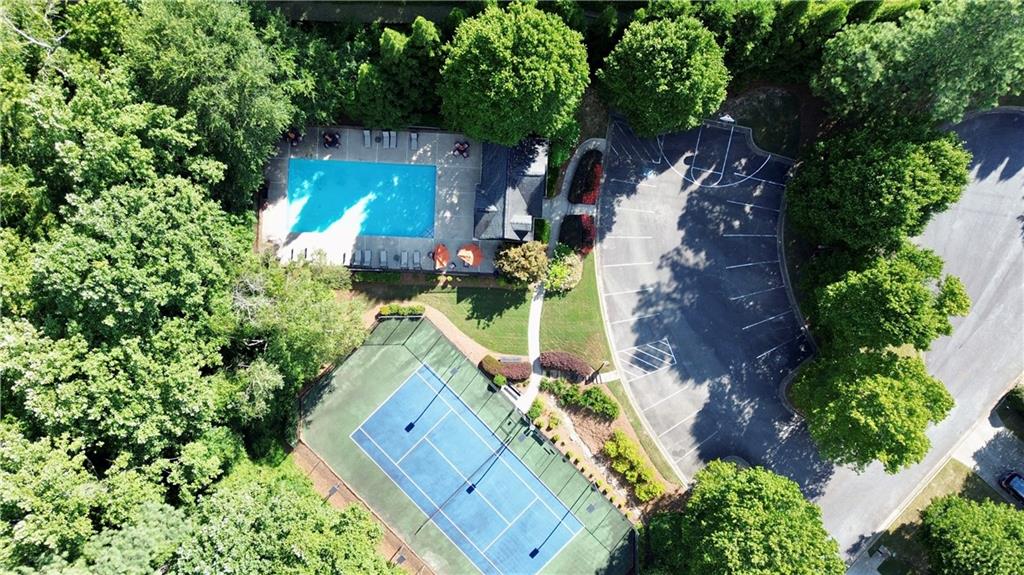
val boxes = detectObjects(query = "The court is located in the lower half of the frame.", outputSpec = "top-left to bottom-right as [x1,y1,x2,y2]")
[301,317,634,575]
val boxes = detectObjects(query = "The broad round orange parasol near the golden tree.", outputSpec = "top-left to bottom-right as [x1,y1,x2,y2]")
[457,241,482,266]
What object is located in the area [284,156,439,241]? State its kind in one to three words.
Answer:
swimming pool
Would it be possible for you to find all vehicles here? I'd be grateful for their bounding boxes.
[1000,468,1024,502]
